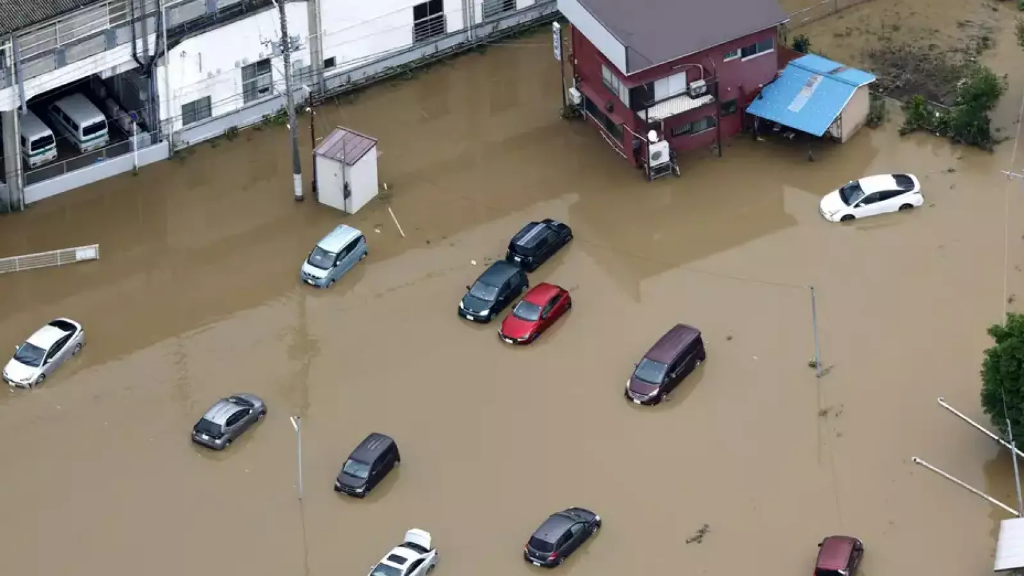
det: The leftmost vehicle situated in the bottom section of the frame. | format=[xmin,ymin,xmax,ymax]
[1,314,86,386]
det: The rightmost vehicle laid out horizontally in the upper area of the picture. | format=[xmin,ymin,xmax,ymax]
[818,171,924,220]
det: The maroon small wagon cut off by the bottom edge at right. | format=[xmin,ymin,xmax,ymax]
[821,536,869,576]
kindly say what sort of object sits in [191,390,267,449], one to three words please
car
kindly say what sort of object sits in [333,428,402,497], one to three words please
car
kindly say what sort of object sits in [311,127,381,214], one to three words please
shed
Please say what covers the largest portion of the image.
water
